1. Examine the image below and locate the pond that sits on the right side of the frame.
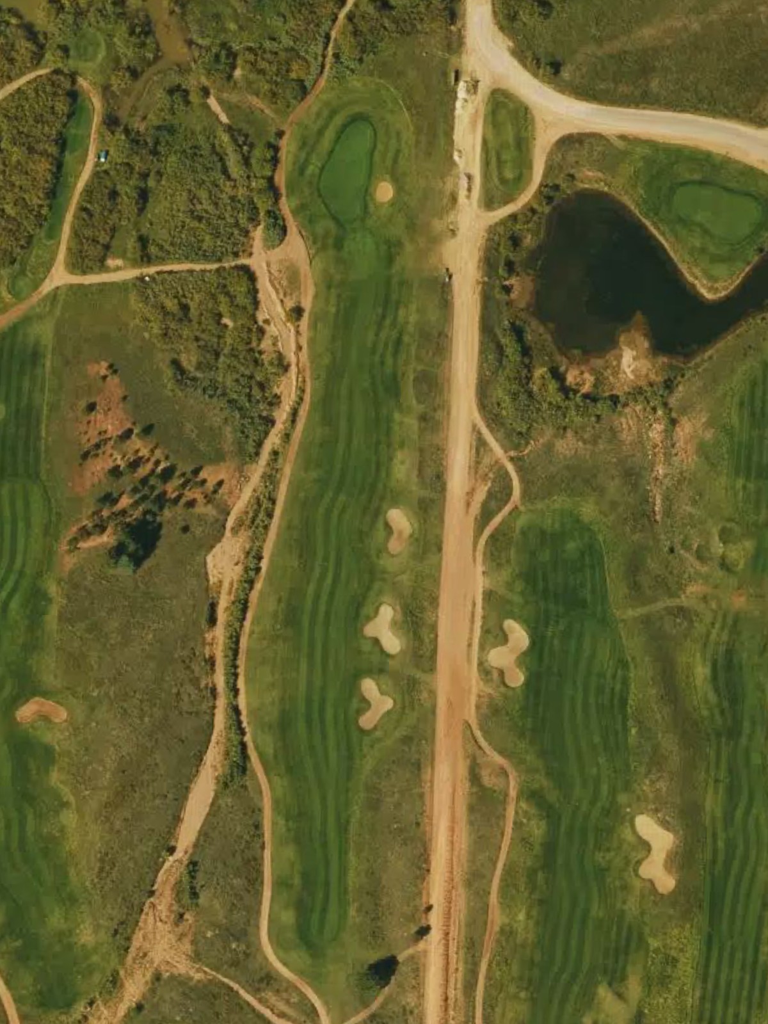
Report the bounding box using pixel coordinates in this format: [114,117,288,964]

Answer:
[532,186,768,365]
